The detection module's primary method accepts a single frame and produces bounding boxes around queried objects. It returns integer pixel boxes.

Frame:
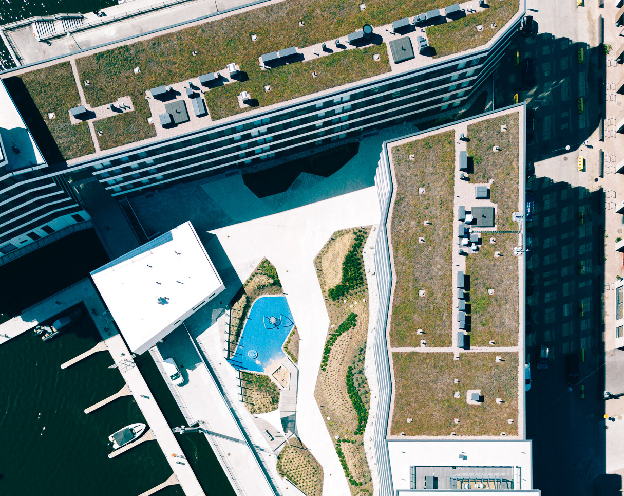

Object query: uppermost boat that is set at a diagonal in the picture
[35,303,80,344]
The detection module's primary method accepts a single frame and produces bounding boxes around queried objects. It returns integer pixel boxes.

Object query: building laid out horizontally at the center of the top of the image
[3,0,525,200]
